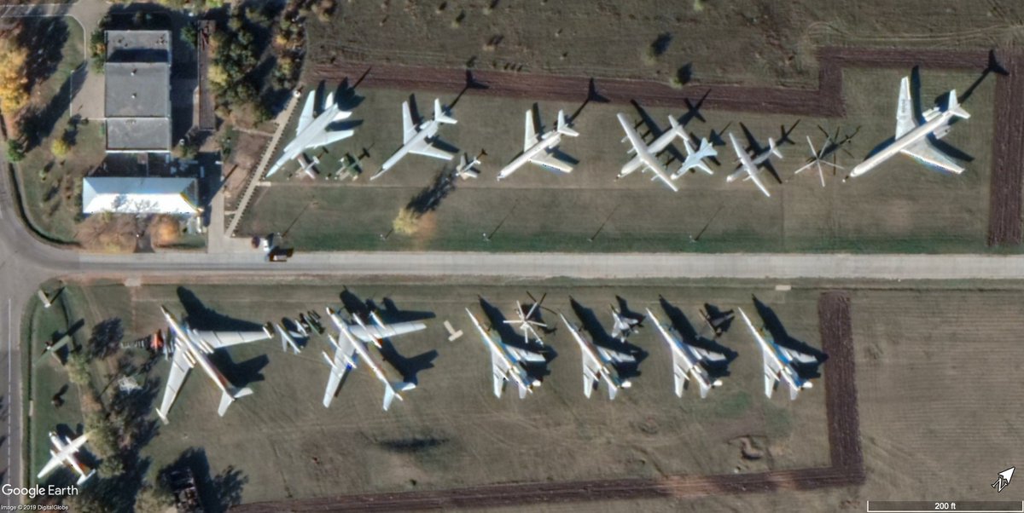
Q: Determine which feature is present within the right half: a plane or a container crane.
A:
plane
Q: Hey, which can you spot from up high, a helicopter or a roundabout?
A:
helicopter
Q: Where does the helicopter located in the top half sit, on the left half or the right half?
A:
right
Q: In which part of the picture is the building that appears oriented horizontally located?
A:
left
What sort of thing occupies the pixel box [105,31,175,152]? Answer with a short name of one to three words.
building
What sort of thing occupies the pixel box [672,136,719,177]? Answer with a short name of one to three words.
airplane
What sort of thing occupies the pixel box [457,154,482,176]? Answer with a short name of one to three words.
airplane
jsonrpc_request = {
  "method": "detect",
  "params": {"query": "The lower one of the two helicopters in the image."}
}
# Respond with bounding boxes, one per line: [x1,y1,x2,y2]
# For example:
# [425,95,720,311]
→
[504,302,547,347]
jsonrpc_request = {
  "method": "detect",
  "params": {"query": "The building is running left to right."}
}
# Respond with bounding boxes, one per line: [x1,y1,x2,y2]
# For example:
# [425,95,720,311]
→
[83,177,205,232]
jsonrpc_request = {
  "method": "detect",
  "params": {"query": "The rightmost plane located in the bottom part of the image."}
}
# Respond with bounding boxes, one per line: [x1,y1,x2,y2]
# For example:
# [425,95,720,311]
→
[739,308,819,399]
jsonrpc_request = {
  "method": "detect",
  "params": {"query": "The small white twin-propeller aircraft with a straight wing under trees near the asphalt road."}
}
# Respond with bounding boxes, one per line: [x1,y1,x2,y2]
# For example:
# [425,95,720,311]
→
[37,433,94,486]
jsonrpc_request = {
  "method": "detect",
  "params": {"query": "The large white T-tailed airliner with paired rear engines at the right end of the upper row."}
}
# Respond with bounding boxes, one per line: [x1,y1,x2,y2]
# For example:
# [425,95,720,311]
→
[851,75,971,176]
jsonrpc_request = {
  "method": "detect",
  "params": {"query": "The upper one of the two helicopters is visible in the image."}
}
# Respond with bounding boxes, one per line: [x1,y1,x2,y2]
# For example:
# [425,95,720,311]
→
[795,136,848,186]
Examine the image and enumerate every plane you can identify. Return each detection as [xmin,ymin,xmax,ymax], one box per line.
[727,132,784,196]
[316,307,425,409]
[296,155,319,178]
[851,75,971,176]
[739,308,819,399]
[559,313,639,404]
[688,308,729,341]
[266,89,354,177]
[372,100,457,178]
[618,114,692,193]
[672,136,719,177]
[37,433,94,486]
[31,334,71,373]
[611,305,638,343]
[646,308,726,399]
[457,154,482,176]
[499,108,579,178]
[337,156,362,181]
[155,306,272,421]
[466,309,546,400]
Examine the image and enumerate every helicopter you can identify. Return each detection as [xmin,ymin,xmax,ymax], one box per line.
[504,302,547,347]
[795,136,848,186]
